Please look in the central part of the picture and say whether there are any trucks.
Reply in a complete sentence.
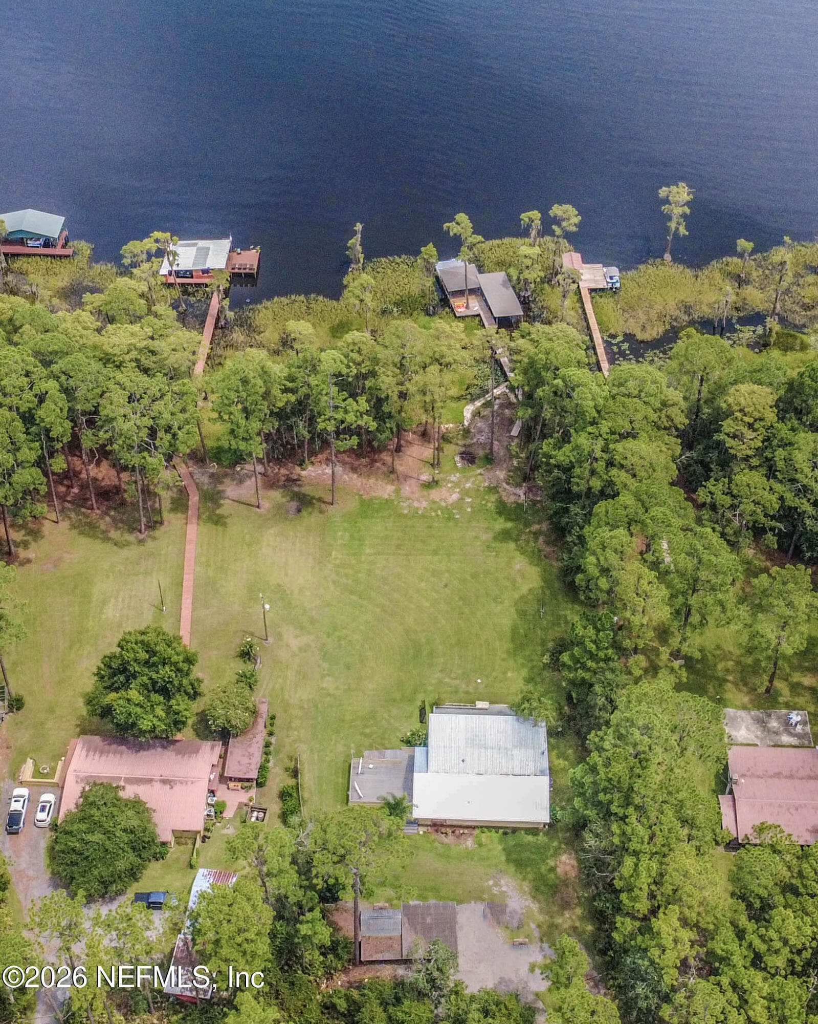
No, I can find no truck in the central part of the picture.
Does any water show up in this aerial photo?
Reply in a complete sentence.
Yes, water shows up in the scene.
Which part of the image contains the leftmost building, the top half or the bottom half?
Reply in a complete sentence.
The top half of the photo is where the leftmost building is.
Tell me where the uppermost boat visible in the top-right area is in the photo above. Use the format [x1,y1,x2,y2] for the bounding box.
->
[605,263,622,295]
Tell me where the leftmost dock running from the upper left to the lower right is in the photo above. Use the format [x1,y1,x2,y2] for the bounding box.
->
[435,276,480,319]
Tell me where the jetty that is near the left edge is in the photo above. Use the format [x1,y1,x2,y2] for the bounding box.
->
[0,230,73,257]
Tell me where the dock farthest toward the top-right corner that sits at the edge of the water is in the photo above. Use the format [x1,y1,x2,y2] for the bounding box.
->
[561,264,608,293]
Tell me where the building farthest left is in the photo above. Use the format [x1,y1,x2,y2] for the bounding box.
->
[0,211,66,257]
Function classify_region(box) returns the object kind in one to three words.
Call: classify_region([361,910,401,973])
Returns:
shed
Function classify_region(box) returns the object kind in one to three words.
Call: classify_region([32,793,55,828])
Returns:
car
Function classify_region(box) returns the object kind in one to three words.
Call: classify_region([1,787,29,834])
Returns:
truck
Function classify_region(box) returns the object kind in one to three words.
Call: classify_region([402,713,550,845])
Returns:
house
